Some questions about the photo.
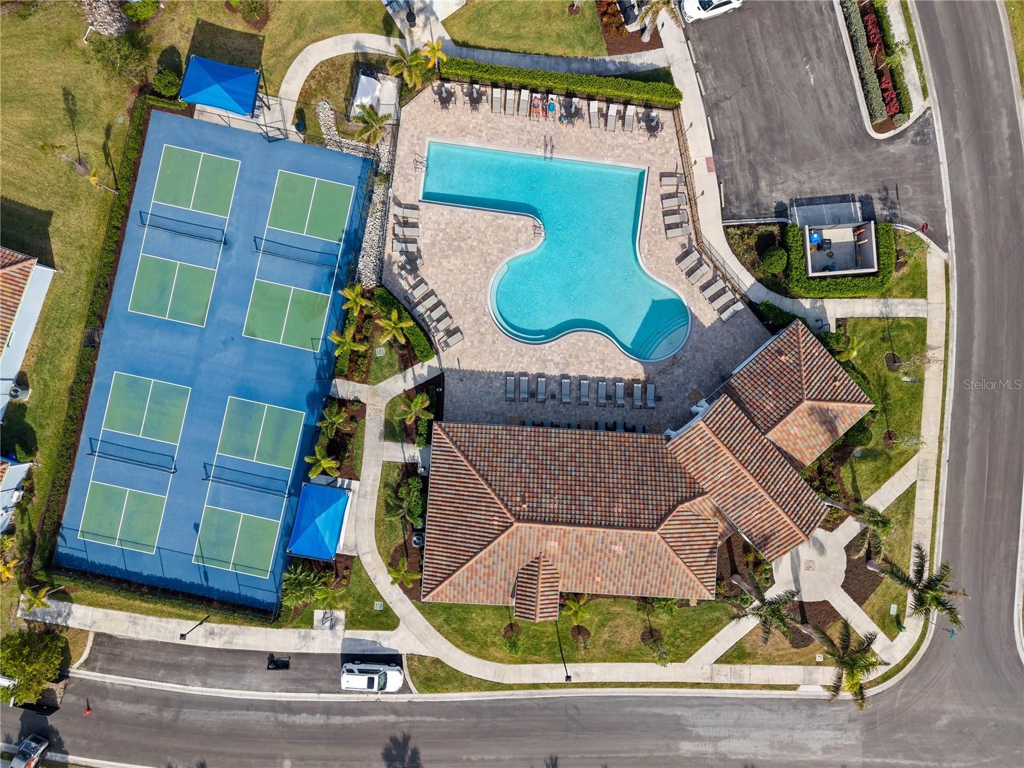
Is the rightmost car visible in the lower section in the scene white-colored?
Yes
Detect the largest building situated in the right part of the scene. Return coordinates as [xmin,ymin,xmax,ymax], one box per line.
[419,318,876,622]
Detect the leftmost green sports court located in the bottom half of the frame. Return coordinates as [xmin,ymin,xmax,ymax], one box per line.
[77,371,191,554]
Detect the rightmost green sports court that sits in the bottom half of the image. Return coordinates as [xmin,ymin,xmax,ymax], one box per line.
[192,396,305,579]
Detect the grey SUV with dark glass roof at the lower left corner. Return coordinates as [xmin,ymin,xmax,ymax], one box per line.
[8,726,57,768]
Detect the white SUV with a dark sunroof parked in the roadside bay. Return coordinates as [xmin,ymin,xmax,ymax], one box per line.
[340,659,405,695]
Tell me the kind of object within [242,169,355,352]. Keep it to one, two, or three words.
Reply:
sports court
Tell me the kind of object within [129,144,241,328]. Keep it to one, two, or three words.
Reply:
sports court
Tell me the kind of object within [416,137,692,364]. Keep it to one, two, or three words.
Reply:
swimming pool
